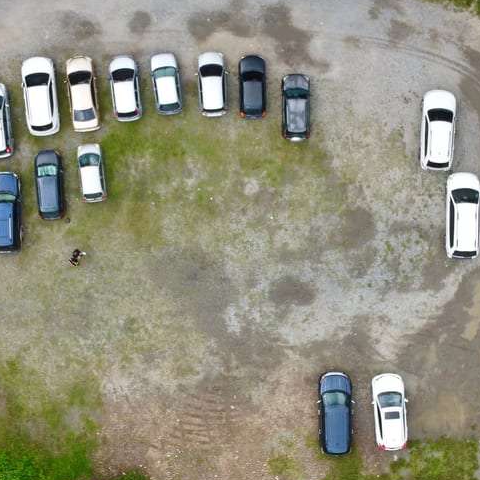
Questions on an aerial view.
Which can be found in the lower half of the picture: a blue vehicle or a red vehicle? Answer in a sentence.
You can see a blue vehicle in the lower half of the picture.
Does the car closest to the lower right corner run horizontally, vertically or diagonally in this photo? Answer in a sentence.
The car closest to the lower right corner runs vertically in the image.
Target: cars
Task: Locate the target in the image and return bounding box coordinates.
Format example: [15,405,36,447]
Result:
[0,83,14,160]
[420,89,458,171]
[0,171,23,253]
[108,55,142,123]
[319,371,355,455]
[32,150,66,220]
[237,55,269,120]
[21,56,61,138]
[195,51,227,119]
[149,52,182,116]
[372,371,408,451]
[280,74,313,141]
[75,143,107,203]
[64,55,101,133]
